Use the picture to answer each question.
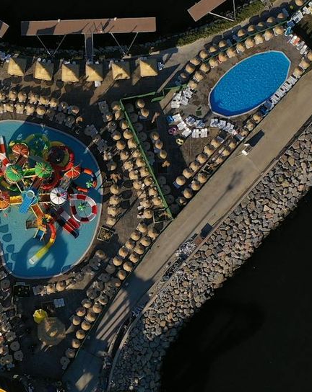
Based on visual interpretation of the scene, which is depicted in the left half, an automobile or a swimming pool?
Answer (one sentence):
The one visible in the left half is a swimming pool.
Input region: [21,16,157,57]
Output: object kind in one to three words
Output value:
pier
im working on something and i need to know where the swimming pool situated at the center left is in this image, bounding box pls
[0,120,103,277]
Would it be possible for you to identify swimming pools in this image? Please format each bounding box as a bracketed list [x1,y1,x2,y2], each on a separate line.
[206,47,295,120]
[0,120,103,277]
